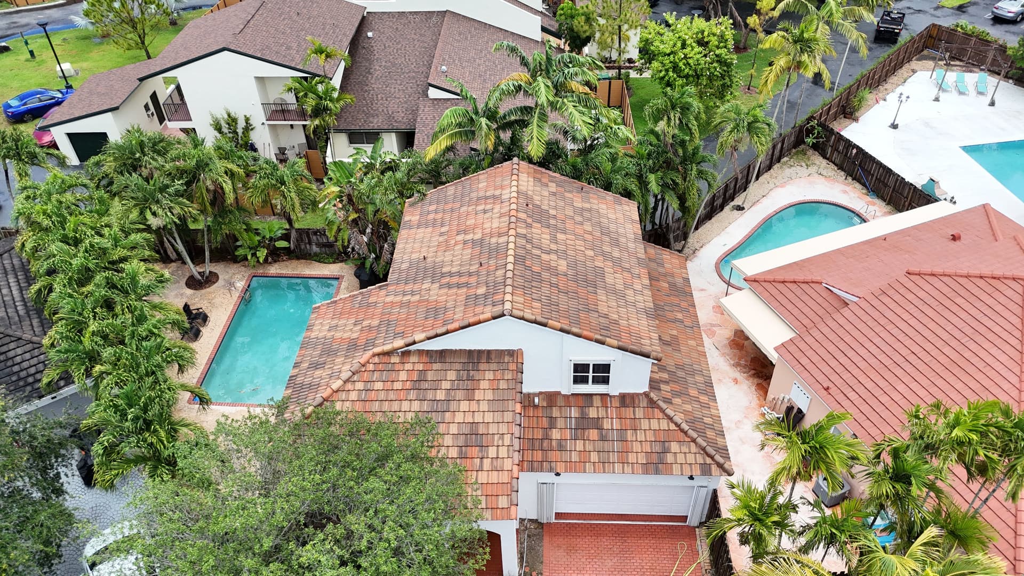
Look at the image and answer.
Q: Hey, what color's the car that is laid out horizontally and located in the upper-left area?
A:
blue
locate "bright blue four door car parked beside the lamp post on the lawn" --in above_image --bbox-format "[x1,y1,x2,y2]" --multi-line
[0,87,73,121]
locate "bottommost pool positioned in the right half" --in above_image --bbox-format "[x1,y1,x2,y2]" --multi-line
[715,198,870,292]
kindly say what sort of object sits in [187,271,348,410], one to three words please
swimming pool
